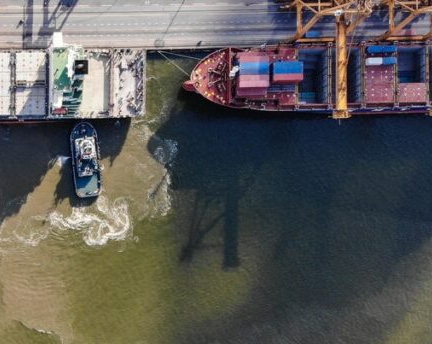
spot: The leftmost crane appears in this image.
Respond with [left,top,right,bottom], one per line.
[276,0,368,126]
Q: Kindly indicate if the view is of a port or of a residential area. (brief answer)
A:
port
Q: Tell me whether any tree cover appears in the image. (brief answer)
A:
No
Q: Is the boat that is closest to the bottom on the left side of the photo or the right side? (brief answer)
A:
left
